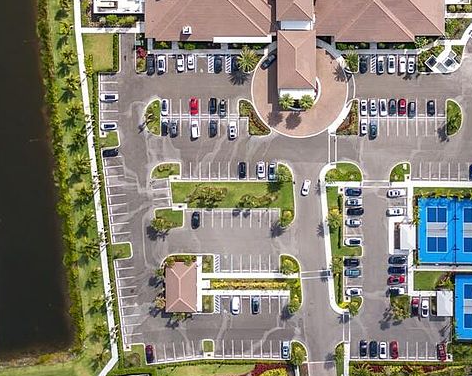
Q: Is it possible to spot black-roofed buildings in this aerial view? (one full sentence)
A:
No, there is no black-roofed building in the image.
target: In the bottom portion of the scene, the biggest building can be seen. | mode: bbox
[166,261,198,312]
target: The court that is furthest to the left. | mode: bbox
[419,200,456,265]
